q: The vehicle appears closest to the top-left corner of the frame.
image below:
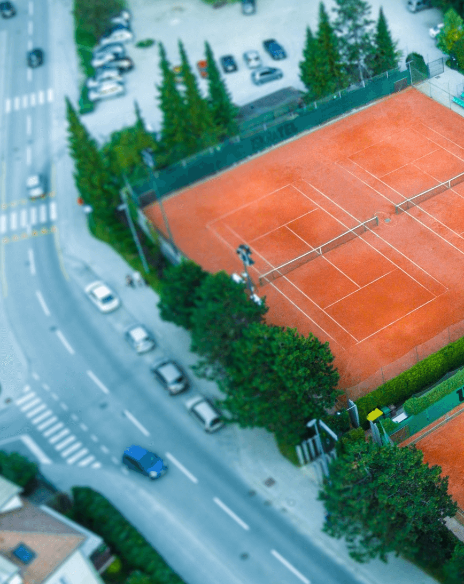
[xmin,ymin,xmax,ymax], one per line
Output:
[0,0,17,17]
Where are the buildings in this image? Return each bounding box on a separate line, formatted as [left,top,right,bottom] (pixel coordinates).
[0,496,102,584]
[237,86,307,133]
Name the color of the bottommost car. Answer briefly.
blue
